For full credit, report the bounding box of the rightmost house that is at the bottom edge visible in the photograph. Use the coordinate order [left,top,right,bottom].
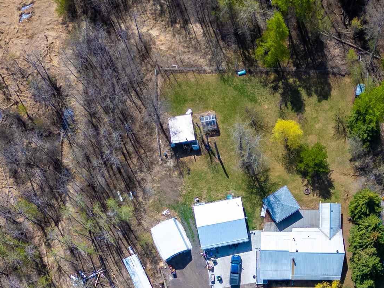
[256,203,344,288]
